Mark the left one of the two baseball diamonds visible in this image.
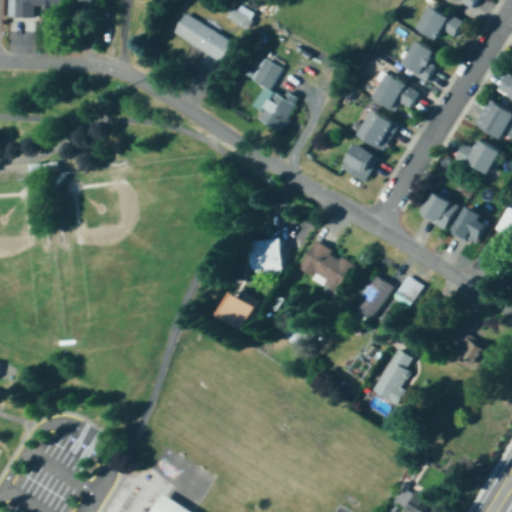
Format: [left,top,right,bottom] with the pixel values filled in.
[0,189,38,323]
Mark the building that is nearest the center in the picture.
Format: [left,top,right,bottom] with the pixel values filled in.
[250,238,283,272]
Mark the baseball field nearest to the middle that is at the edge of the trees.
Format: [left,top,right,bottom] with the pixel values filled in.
[70,173,206,324]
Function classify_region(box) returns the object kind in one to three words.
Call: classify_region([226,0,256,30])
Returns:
building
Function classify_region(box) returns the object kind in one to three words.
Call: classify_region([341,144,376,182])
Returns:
house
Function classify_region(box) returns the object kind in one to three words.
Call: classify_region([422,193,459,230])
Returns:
house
